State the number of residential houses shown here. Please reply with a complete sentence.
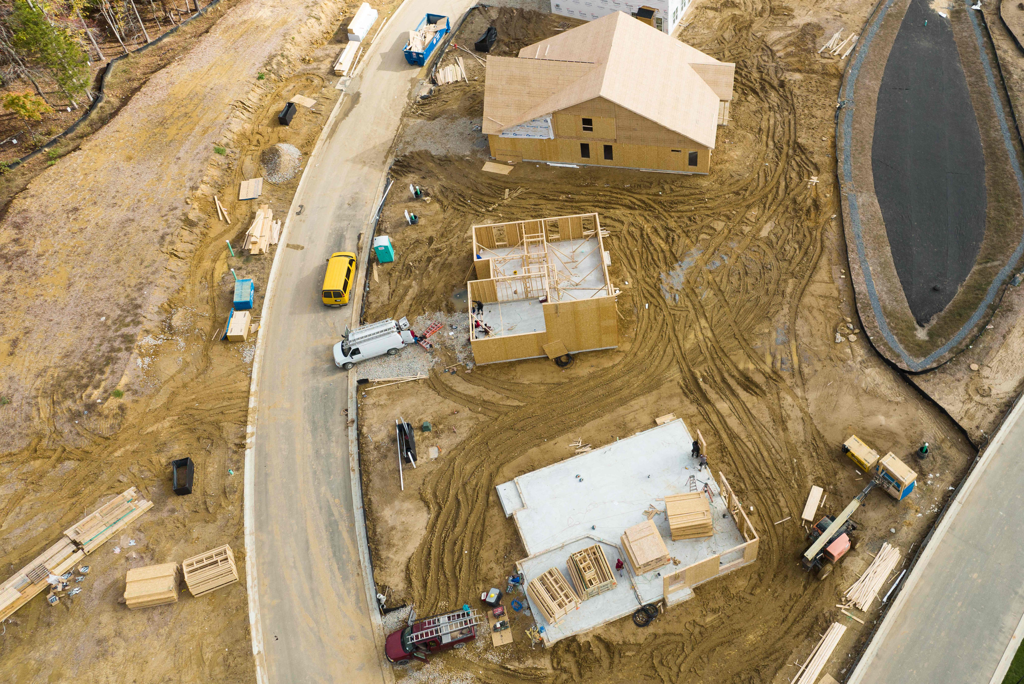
Altogether the scene contains 2 residential houses.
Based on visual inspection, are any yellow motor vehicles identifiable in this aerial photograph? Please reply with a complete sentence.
Yes, the frame does contain a yellow motor vehicle.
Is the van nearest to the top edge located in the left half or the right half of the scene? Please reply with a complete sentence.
The van nearest to the top edge appears in the left half of the scene.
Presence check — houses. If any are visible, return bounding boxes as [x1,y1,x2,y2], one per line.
[481,8,737,175]
[467,211,623,365]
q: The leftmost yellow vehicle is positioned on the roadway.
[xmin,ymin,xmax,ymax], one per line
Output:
[321,251,356,307]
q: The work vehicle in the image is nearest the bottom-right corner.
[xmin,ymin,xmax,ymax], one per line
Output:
[792,482,888,585]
